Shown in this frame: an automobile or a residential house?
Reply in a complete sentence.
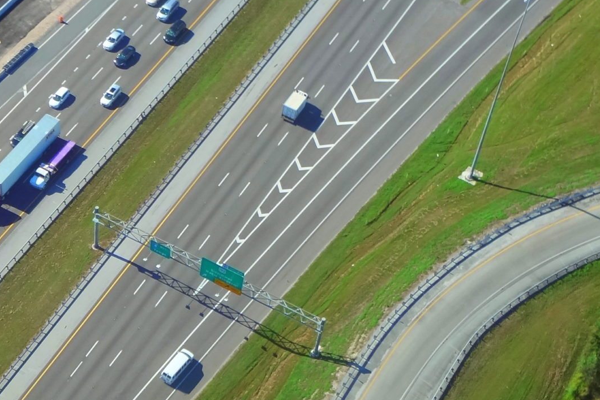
The one in the frame is an automobile.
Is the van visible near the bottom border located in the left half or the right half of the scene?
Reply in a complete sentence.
The van visible near the bottom border is on the left side of the image.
